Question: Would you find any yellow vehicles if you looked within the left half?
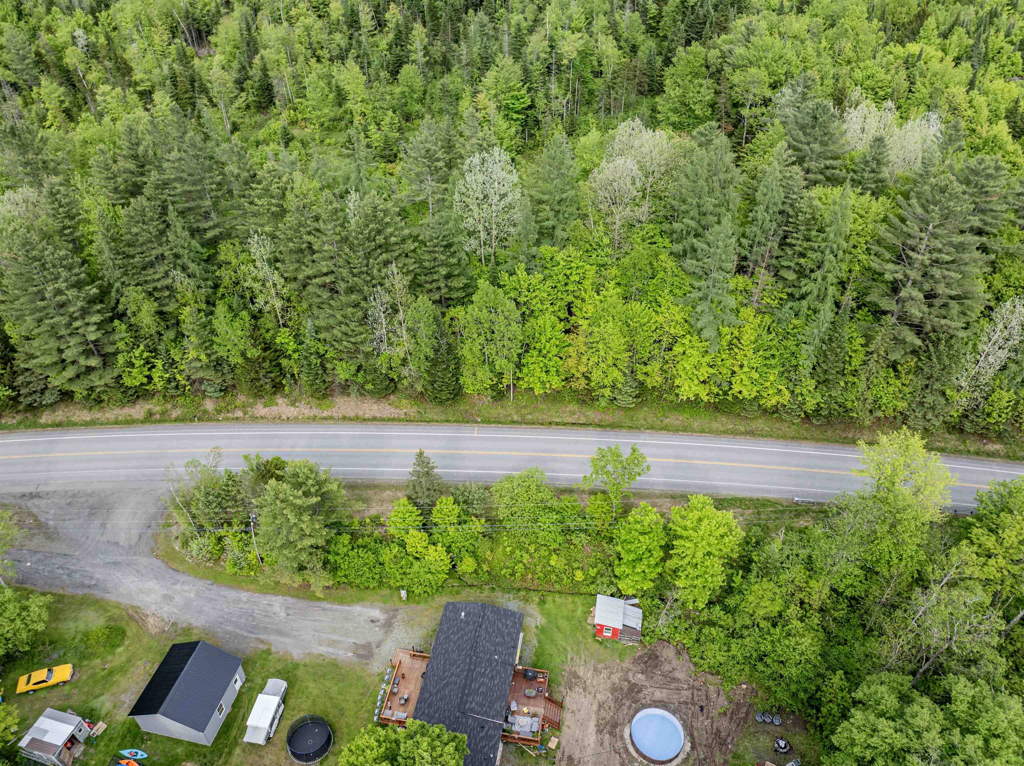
Yes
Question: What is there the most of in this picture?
trees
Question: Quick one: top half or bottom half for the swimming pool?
bottom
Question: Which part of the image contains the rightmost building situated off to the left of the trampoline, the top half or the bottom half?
bottom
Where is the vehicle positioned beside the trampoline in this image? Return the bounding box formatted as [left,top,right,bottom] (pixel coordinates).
[243,680,290,750]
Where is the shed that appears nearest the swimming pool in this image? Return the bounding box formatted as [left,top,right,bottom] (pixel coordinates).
[595,595,644,650]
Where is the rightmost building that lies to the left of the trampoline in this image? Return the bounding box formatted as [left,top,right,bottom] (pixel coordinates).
[127,641,248,747]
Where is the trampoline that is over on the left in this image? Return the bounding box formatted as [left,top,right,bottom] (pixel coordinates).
[285,712,334,766]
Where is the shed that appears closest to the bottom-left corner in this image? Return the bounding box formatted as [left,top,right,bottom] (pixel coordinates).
[21,708,88,766]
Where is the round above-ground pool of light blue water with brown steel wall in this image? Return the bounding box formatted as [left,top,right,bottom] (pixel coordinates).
[629,707,685,766]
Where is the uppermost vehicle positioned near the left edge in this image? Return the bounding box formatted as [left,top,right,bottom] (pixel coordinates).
[15,665,76,695]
